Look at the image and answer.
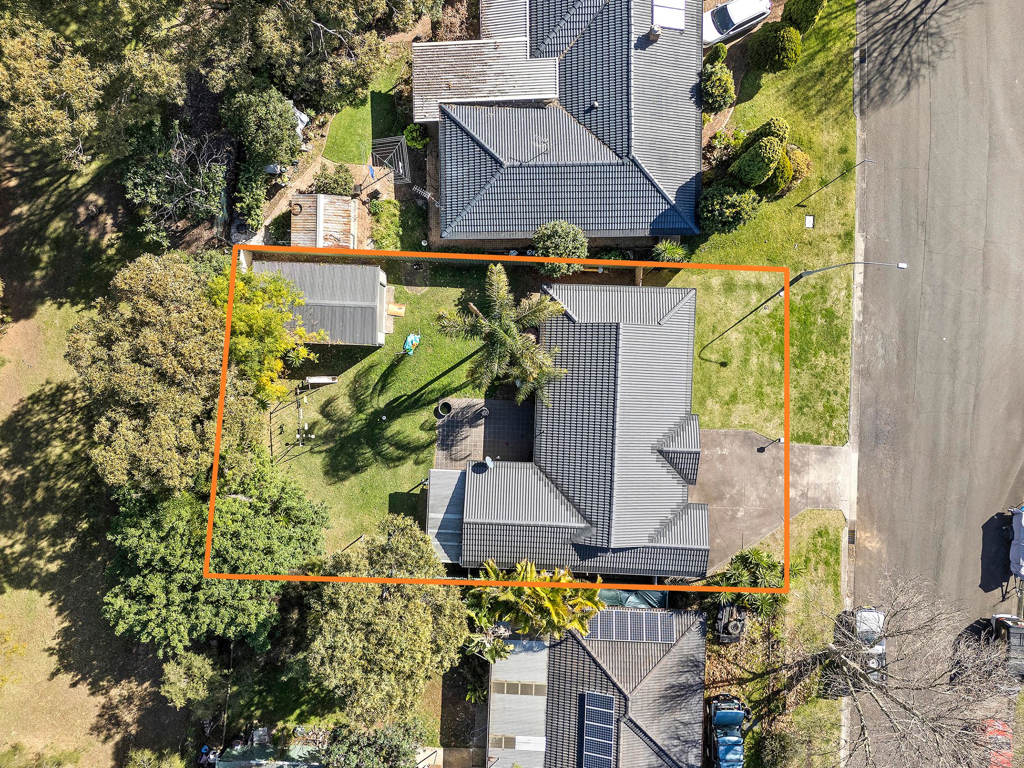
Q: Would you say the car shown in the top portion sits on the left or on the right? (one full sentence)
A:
You can find the car shown in the top portion on the right side of the picture.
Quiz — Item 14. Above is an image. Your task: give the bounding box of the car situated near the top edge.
[703,0,776,48]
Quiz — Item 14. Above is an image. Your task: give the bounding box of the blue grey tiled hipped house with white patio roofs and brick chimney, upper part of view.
[412,0,703,241]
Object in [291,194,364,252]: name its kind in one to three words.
shed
